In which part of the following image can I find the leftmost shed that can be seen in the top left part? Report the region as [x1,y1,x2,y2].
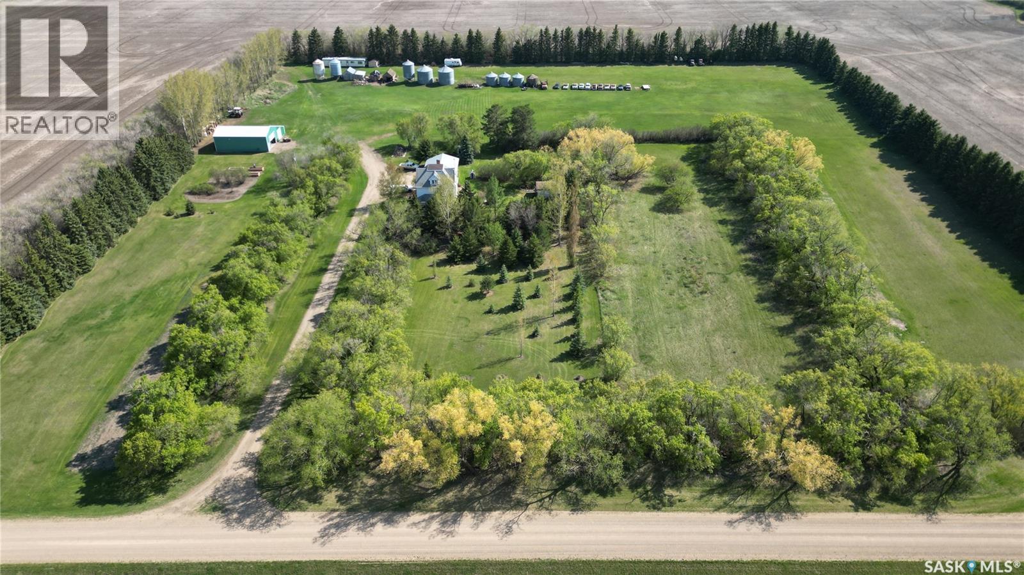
[211,124,281,153]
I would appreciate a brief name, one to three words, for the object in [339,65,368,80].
shed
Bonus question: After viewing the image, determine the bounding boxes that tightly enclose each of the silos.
[417,63,433,84]
[402,57,415,79]
[438,63,454,84]
[329,54,342,75]
[512,70,524,86]
[499,70,511,86]
[486,70,498,86]
[311,55,325,78]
